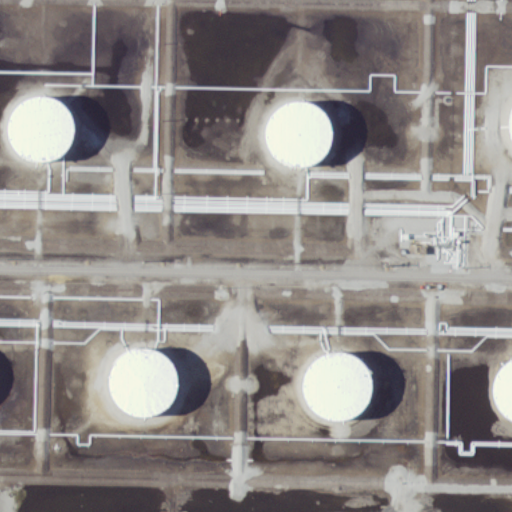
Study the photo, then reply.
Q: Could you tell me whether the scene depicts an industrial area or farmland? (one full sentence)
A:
What you see here is an industrial area.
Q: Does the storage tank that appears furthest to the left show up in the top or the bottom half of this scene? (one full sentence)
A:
It is in the top half that the storage tank that appears furthest to the left appears.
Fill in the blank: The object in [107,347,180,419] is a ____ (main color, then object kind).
white storage tank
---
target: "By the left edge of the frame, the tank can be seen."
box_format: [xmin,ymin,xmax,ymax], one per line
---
[7,94,77,164]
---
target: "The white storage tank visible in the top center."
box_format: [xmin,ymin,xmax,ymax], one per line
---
[264,99,334,169]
